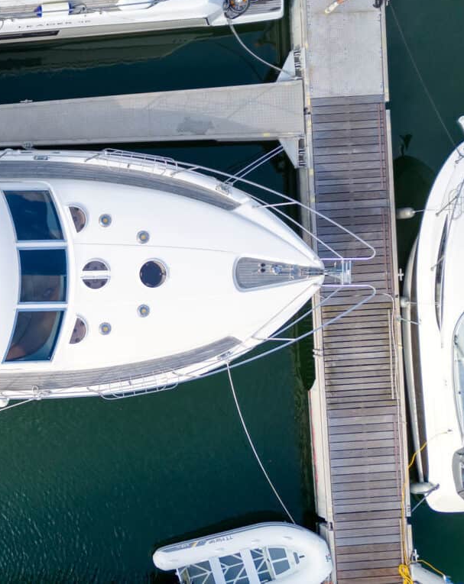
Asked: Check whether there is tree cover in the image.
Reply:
No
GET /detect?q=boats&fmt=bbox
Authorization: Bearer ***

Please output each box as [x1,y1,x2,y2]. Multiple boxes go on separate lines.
[159,524,330,584]
[403,117,464,513]
[0,147,377,400]
[0,0,283,42]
